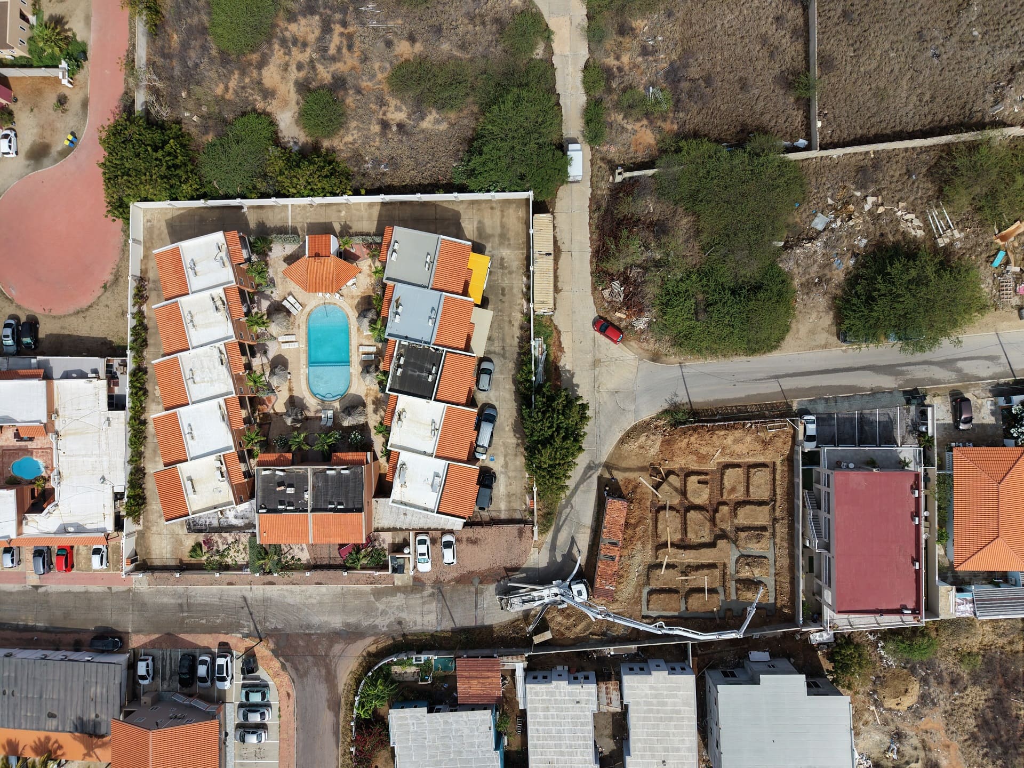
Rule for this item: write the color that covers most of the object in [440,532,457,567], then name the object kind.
white car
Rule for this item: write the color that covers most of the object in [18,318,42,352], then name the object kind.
black car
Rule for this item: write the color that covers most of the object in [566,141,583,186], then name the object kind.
white vehicle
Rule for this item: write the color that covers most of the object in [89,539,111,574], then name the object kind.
white car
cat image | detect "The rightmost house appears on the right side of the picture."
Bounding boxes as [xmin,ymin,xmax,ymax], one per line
[944,446,1024,573]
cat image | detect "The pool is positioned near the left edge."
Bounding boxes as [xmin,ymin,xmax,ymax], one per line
[11,456,44,480]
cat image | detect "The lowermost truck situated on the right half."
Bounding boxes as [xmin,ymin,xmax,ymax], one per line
[498,550,764,641]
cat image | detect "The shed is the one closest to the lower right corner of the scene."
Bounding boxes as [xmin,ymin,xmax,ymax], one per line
[929,582,955,618]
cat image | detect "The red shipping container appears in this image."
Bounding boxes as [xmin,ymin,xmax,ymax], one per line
[590,494,628,602]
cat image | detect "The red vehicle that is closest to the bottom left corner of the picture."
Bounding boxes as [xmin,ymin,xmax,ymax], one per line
[54,546,77,576]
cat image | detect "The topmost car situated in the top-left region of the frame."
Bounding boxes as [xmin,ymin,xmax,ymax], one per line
[0,128,21,160]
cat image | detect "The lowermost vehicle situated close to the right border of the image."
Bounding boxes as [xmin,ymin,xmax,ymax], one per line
[951,396,974,430]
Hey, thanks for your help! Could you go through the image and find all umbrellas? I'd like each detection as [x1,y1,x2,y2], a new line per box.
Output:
[268,310,291,333]
[339,400,367,428]
[269,365,290,386]
[359,310,379,329]
[284,405,306,426]
[361,365,380,384]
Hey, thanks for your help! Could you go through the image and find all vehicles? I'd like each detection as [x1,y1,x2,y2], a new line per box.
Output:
[590,317,626,345]
[477,357,496,393]
[240,684,273,703]
[89,539,111,574]
[0,540,22,573]
[214,650,234,689]
[235,725,271,746]
[0,128,21,160]
[54,546,77,576]
[238,653,257,681]
[498,550,764,641]
[414,532,432,572]
[566,141,583,186]
[951,396,974,430]
[476,404,498,455]
[440,532,457,567]
[87,633,126,653]
[239,703,275,723]
[195,651,215,687]
[135,653,155,685]
[176,652,196,687]
[799,413,819,448]
[18,318,42,352]
[0,318,23,356]
[477,467,495,510]
[30,546,55,580]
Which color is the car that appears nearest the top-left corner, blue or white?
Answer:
white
